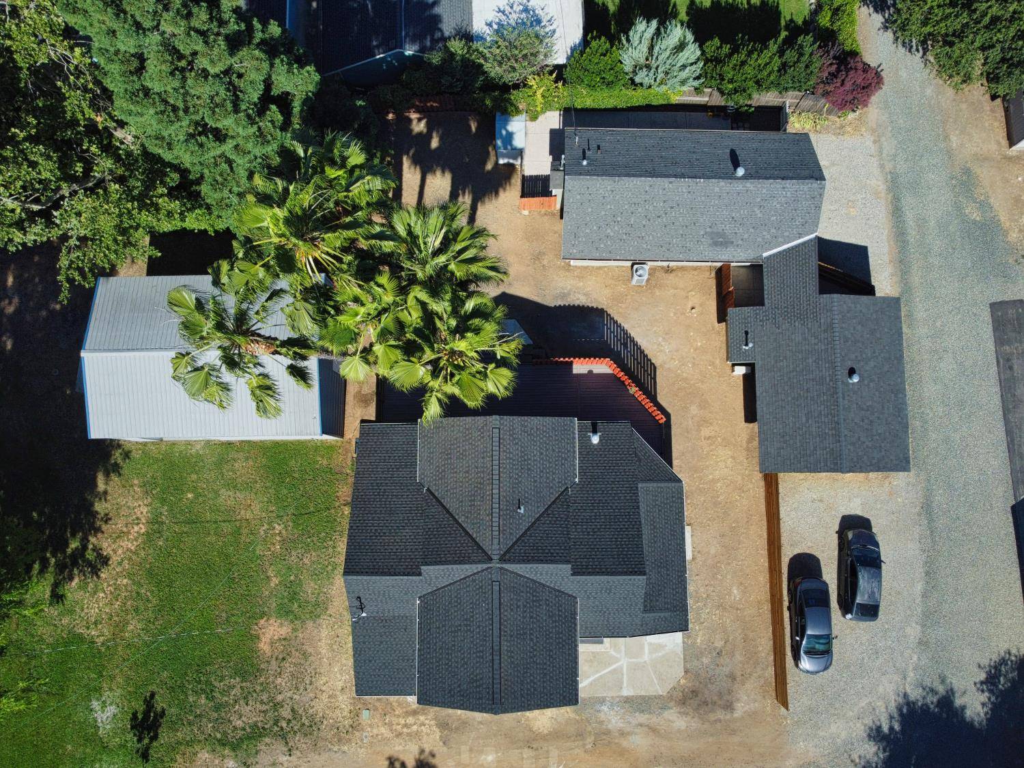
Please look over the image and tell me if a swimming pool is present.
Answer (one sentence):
No, the frame has no swimming pool in it.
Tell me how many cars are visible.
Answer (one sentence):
The number of cars here is 2.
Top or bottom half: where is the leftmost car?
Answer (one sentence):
The leftmost car is in the bottom half of the image.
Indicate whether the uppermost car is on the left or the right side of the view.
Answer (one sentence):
The uppermost car is on the right side of the image.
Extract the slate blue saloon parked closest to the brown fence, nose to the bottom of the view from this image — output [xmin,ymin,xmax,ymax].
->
[787,575,841,678]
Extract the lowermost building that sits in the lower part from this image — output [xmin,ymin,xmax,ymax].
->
[343,416,693,715]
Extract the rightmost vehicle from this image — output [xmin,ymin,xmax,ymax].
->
[837,528,890,624]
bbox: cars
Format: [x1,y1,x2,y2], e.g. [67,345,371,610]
[837,528,890,624]
[787,575,841,678]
